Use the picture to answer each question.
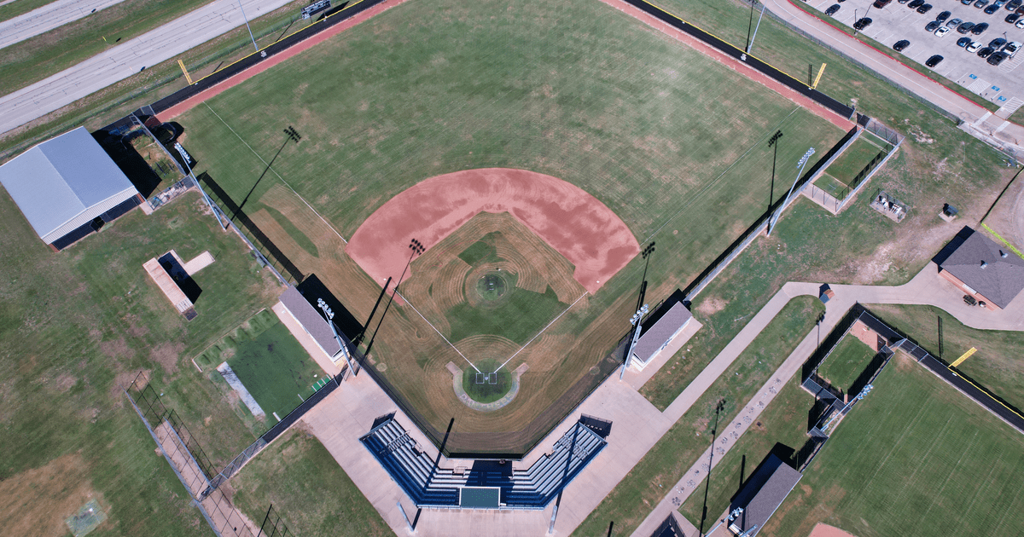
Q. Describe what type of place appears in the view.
sports ground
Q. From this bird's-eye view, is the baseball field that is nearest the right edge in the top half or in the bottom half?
bottom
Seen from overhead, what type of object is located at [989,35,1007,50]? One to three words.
car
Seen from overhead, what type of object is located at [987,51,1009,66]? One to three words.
vehicle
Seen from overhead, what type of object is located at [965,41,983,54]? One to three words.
vehicle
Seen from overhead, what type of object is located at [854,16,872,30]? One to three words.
car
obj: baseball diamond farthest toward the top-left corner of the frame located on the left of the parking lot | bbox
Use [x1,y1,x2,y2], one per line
[143,0,852,456]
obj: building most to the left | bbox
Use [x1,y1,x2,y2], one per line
[0,122,145,252]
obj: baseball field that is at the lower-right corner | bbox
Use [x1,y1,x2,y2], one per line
[756,353,1024,537]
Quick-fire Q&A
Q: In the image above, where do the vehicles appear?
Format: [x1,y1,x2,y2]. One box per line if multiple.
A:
[989,35,1007,50]
[916,3,933,14]
[1006,0,1023,11]
[946,17,963,29]
[971,23,989,35]
[1014,5,1024,16]
[924,20,941,32]
[1003,13,1021,25]
[825,4,841,16]
[960,0,975,7]
[957,20,975,35]
[983,4,1000,15]
[1013,18,1024,30]
[874,0,891,9]
[892,40,910,52]
[1002,40,1022,56]
[955,36,973,49]
[993,0,1011,9]
[965,41,983,54]
[854,16,872,30]
[987,51,1009,66]
[935,11,952,23]
[925,53,944,68]
[974,0,991,10]
[976,46,994,59]
[933,26,951,38]
[907,0,925,10]
[896,0,910,5]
